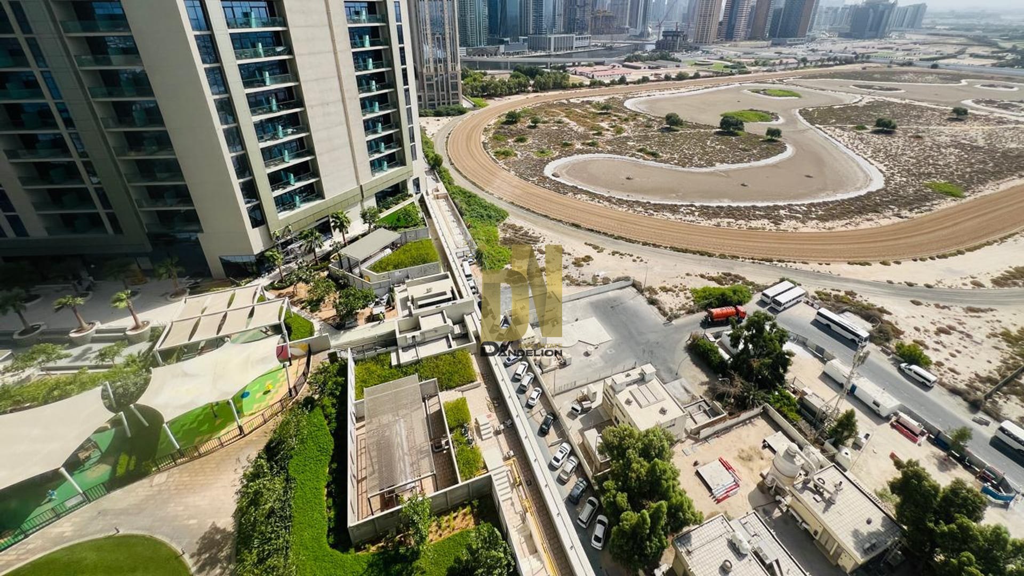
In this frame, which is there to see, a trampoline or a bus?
bus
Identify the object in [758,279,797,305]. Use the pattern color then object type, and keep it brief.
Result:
white bus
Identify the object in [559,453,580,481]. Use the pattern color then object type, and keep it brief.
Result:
gray car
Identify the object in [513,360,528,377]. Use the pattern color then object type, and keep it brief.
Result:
white car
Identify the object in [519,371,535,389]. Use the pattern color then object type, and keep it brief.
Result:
white car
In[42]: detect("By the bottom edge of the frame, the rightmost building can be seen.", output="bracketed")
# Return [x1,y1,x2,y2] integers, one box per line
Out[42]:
[784,463,908,576]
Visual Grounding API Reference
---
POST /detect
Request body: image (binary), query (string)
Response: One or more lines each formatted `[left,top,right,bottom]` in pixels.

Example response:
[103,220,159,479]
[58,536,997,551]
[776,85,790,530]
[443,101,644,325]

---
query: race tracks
[448,64,1024,261]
